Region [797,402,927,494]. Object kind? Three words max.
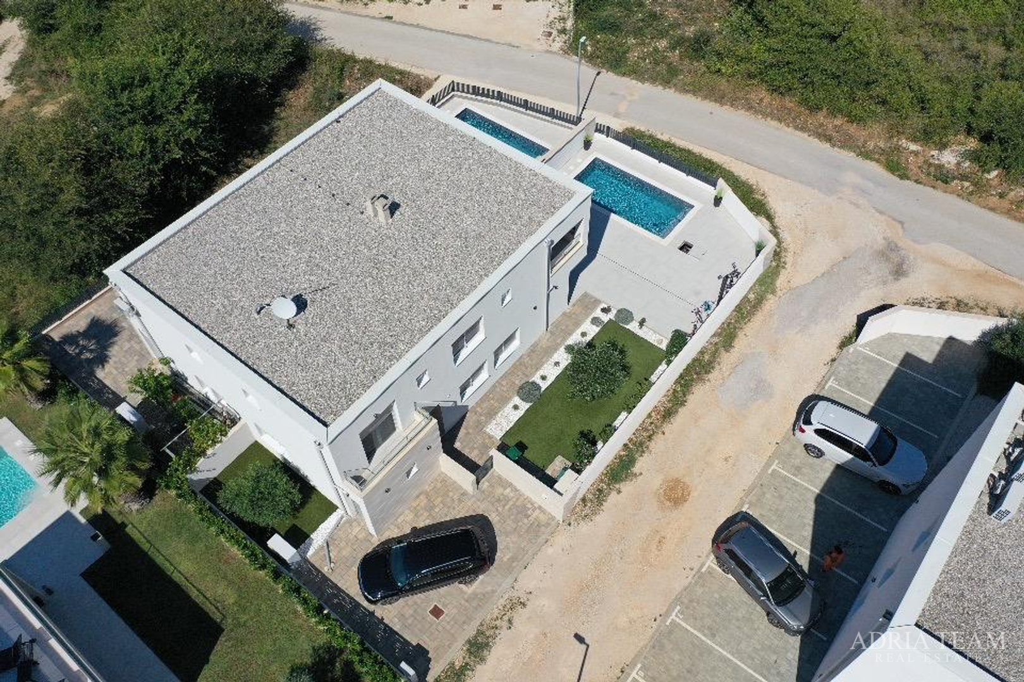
car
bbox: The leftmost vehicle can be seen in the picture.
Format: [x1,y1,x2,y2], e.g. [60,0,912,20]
[356,522,490,604]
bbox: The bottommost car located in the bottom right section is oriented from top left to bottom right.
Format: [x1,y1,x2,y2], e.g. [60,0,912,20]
[711,518,829,637]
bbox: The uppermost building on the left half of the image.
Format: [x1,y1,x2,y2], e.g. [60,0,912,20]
[102,78,596,536]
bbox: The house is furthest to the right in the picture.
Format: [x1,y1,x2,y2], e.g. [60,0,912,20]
[811,381,1024,682]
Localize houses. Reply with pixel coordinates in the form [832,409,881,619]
[102,78,596,536]
[0,569,103,682]
[811,381,1024,682]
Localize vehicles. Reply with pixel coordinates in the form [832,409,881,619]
[711,518,829,637]
[356,522,490,604]
[797,402,927,494]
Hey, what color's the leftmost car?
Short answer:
black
